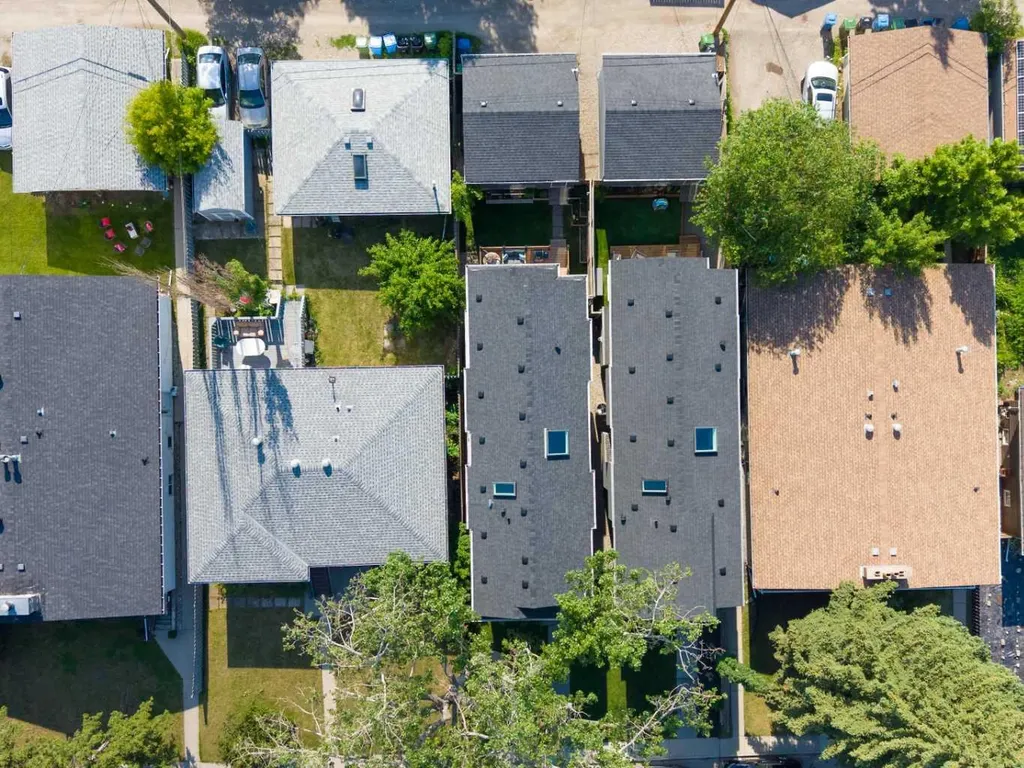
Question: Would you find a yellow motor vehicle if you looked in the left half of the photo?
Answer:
No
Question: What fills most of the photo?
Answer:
buildings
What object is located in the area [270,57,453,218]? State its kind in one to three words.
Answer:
building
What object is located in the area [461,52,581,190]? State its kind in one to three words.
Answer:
building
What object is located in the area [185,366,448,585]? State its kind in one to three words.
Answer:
house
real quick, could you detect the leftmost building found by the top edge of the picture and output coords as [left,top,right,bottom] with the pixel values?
[11,25,176,194]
